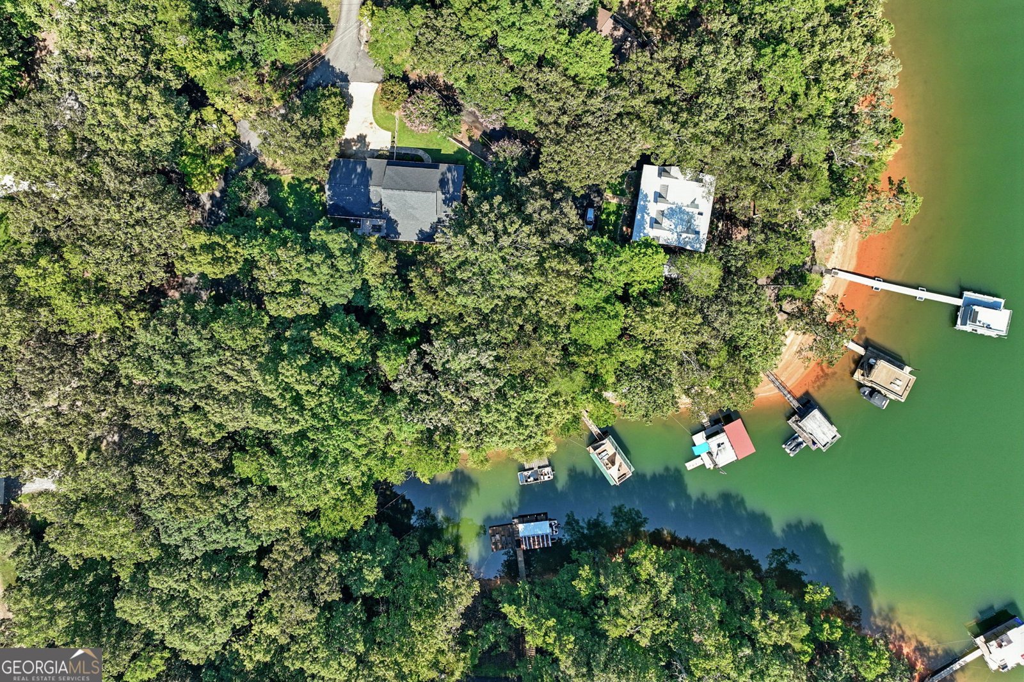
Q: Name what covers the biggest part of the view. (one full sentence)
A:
The largest share of the image is taken up by trees.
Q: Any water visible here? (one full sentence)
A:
Yes, there is water in the image.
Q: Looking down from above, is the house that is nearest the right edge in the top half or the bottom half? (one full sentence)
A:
The house that is nearest the right edge sits in the top half of the picture.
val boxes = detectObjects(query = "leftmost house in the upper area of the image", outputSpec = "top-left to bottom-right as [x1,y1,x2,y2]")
[327,158,467,242]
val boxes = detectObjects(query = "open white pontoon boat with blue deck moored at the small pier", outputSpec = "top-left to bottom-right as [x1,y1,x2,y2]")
[519,467,555,484]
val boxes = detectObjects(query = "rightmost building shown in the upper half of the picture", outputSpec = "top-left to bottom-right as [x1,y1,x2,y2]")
[630,167,712,252]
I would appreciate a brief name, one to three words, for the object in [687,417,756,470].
pier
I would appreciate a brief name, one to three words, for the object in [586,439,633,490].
pier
